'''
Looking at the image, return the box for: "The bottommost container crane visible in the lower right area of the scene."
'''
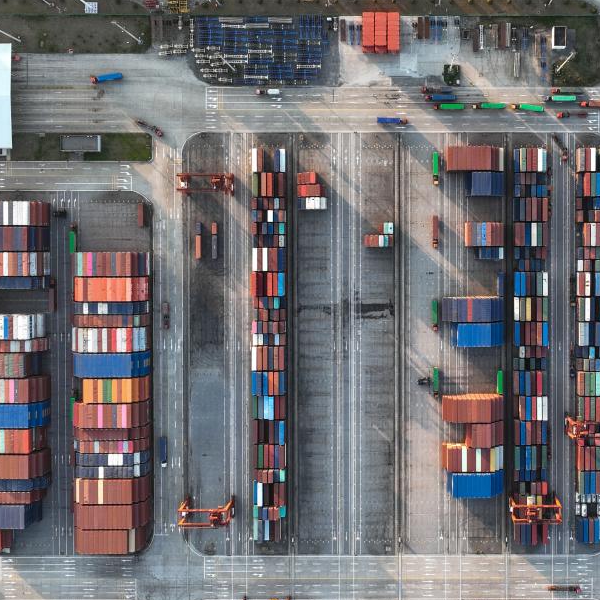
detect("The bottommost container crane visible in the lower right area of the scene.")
[506,492,564,524]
